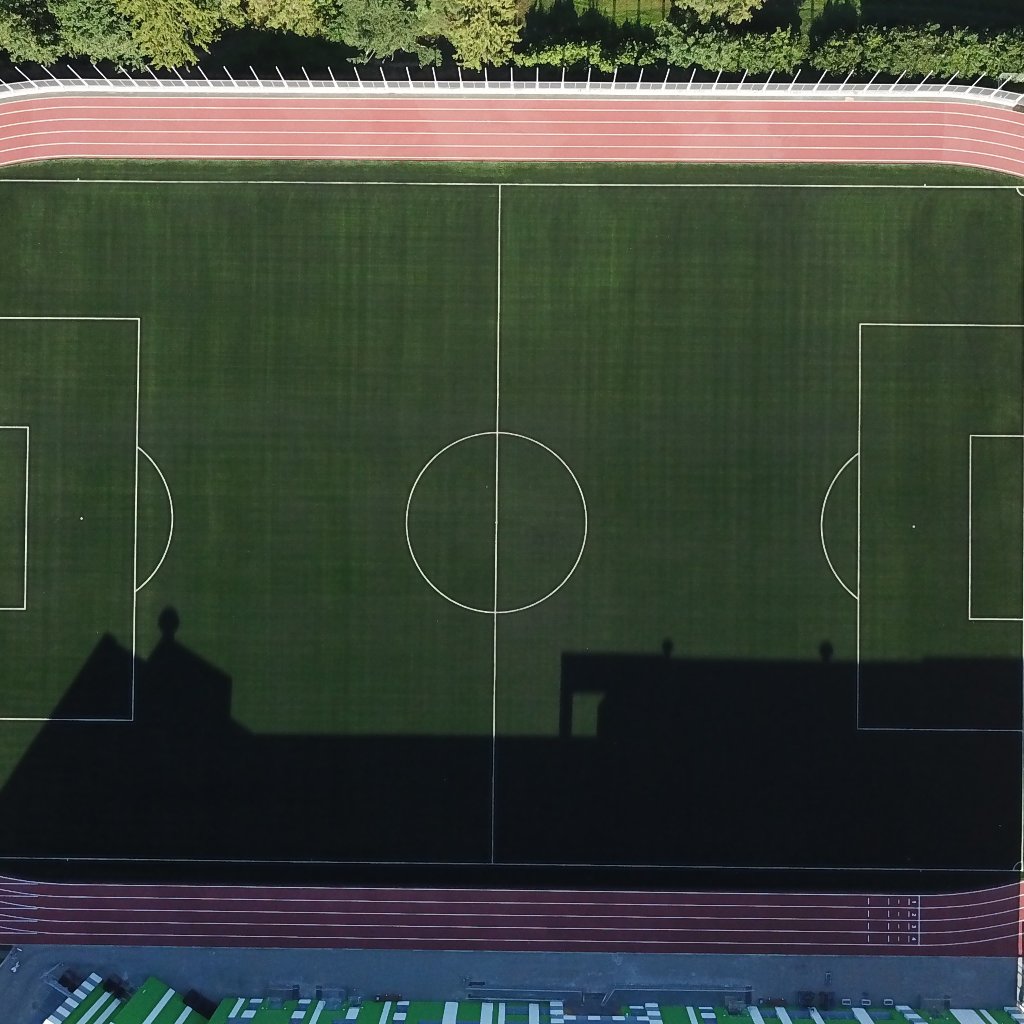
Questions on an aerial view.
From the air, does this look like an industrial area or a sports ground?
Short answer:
sports ground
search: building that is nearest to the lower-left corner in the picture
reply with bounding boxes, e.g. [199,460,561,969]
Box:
[44,971,130,1024]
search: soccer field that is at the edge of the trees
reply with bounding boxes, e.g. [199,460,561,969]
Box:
[0,175,1024,876]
